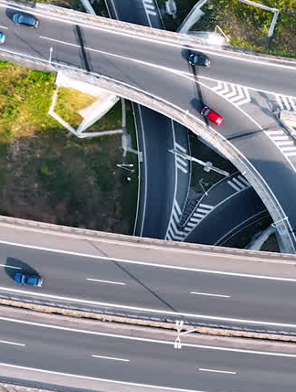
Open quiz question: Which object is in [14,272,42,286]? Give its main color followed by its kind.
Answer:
blue vehicle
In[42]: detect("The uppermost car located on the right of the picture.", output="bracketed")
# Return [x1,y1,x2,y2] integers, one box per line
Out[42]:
[187,53,210,66]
